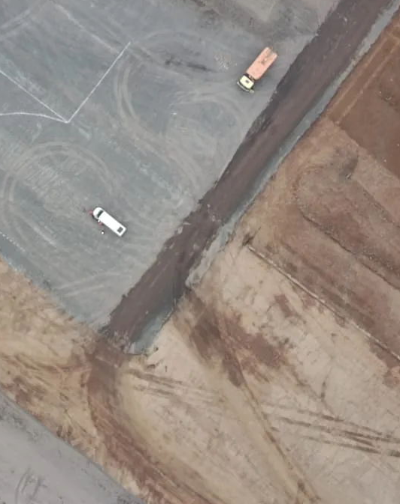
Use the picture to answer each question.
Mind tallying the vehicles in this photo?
2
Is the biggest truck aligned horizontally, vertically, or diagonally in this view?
diagonally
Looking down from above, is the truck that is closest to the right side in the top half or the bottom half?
top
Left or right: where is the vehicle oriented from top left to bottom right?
left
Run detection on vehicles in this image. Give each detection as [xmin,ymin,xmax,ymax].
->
[236,46,277,91]
[93,209,127,237]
